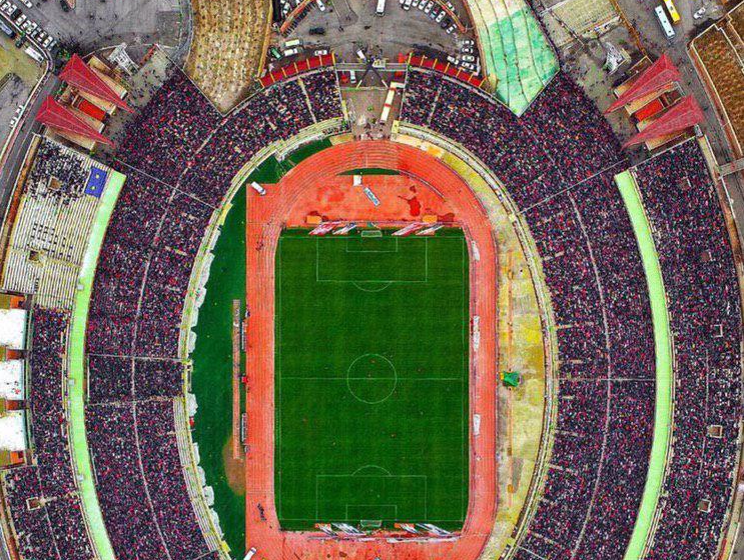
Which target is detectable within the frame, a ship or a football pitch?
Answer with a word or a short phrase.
football pitch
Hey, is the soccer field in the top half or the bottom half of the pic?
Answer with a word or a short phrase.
bottom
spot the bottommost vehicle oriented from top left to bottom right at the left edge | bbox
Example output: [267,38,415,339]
[21,44,44,61]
